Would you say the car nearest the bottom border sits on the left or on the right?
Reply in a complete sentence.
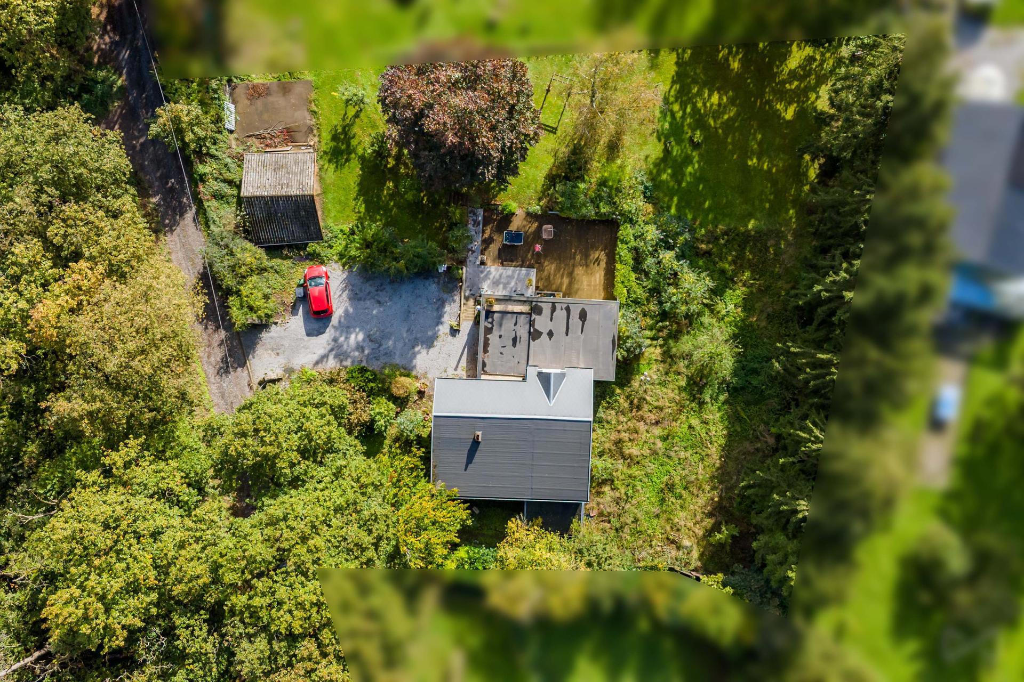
You can find the car nearest the bottom border on the right side of the picture.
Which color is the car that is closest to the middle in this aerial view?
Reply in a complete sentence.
The color of the car that is closest to the middle is red.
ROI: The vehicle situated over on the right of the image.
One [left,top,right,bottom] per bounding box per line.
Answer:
[929,377,966,432]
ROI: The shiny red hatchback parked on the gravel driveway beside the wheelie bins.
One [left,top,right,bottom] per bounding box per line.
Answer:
[302,266,335,321]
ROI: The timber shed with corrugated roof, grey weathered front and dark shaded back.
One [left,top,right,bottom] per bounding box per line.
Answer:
[240,151,325,246]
